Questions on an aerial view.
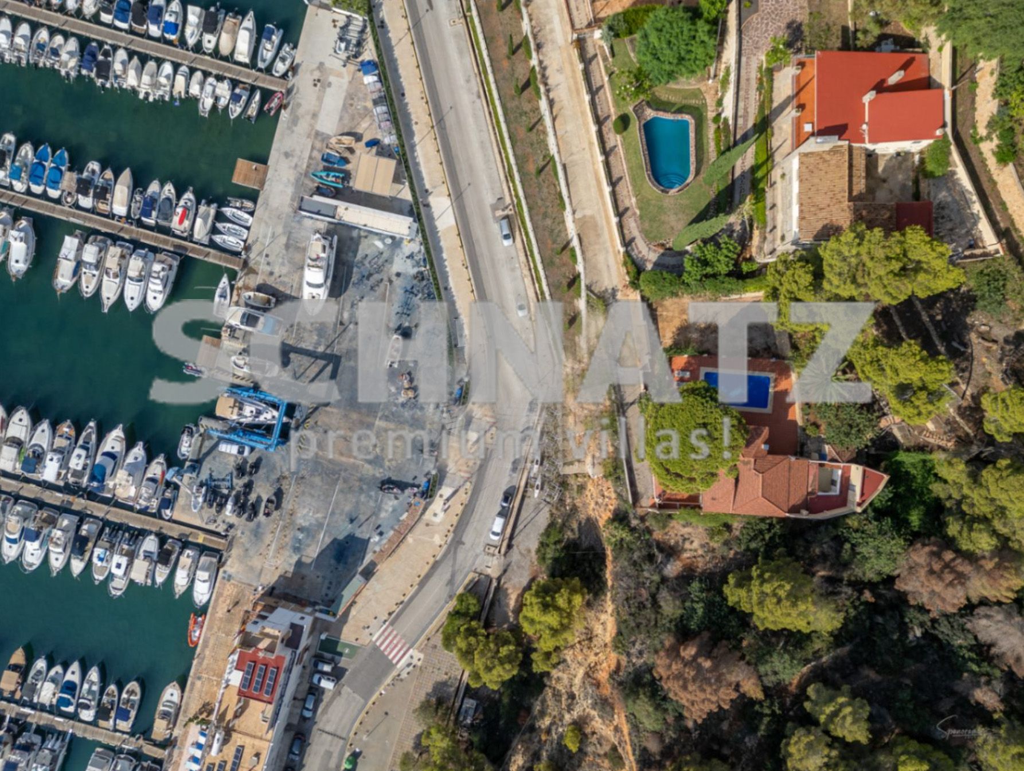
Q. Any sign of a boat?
Yes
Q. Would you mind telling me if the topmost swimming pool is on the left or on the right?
right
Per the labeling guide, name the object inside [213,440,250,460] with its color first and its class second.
white vehicle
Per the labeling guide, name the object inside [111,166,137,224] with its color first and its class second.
white boat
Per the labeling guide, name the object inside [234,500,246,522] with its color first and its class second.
black boat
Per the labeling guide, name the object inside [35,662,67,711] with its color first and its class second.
white boat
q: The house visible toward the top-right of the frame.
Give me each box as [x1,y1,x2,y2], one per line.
[781,50,943,247]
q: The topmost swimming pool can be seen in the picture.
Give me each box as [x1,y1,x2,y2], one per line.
[638,111,695,195]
